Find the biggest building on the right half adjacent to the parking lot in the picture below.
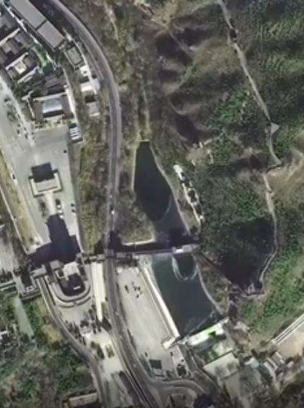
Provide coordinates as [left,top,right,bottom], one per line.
[186,317,226,346]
